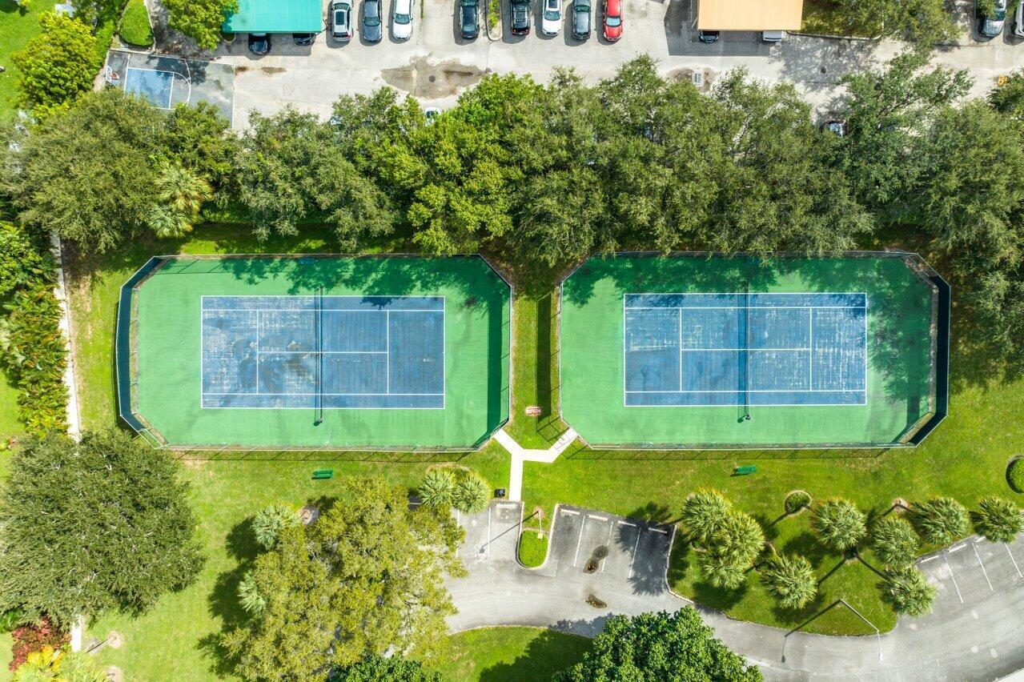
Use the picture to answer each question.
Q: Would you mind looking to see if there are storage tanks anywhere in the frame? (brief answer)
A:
No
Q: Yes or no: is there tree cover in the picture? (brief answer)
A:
Yes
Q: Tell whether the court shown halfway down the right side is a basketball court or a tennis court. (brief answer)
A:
tennis court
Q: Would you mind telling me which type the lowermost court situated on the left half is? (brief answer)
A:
tennis court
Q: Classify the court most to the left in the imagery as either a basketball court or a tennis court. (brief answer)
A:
basketball court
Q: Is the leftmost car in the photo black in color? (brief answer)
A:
Yes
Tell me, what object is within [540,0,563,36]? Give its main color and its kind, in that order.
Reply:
white car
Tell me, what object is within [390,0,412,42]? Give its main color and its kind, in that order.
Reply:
white car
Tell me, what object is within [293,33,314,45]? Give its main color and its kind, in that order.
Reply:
black vehicle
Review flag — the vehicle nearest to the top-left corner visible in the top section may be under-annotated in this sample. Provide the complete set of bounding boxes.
[244,33,269,57]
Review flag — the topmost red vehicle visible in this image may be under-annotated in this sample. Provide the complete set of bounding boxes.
[602,0,625,42]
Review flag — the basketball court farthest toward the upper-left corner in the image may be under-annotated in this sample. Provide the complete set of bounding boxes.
[104,51,234,138]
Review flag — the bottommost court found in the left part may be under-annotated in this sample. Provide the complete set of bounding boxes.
[135,258,510,446]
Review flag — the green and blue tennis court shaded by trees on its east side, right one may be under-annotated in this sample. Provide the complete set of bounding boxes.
[559,258,930,445]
